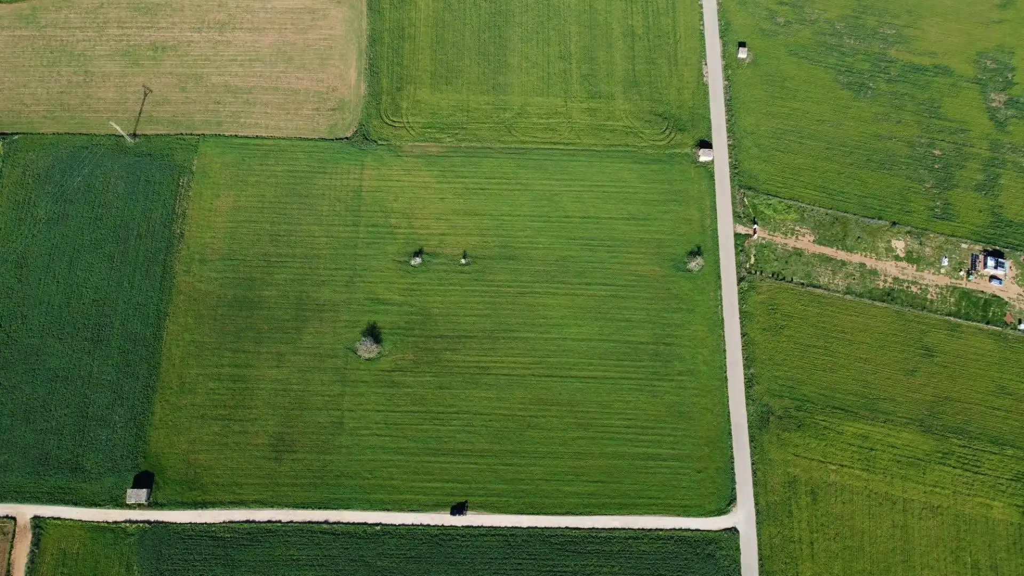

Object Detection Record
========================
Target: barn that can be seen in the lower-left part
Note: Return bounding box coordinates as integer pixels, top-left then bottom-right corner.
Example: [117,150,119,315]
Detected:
[124,490,149,504]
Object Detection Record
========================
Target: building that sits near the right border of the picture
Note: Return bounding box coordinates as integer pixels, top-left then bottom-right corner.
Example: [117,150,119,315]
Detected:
[977,257,1011,279]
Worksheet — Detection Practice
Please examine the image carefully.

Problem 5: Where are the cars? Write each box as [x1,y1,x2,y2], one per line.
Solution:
[992,279,1005,287]
[450,509,467,516]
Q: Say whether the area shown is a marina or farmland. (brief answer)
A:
farmland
